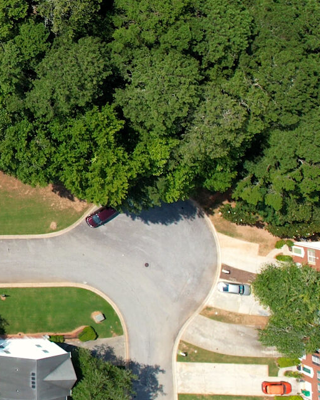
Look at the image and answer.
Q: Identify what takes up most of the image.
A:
trees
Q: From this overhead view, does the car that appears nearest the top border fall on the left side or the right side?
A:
left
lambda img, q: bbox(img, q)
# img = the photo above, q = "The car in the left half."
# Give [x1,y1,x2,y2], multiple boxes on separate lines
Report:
[84,205,119,229]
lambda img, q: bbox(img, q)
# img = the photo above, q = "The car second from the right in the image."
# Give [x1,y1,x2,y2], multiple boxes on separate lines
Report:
[217,281,250,296]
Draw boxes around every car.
[259,380,292,397]
[217,281,250,296]
[84,205,119,229]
